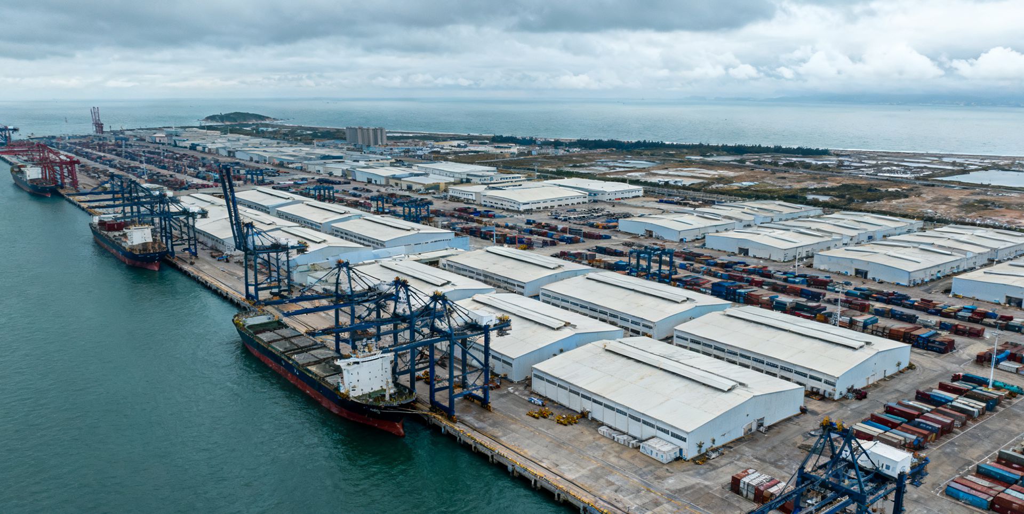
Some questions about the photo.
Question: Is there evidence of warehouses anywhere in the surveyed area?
Yes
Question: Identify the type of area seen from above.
port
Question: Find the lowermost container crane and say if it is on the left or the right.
right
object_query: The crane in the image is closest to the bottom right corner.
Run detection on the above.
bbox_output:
[749,418,924,514]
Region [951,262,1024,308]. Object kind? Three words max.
building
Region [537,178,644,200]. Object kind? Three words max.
building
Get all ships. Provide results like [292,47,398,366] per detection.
[11,164,54,194]
[86,217,170,270]
[235,306,426,436]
